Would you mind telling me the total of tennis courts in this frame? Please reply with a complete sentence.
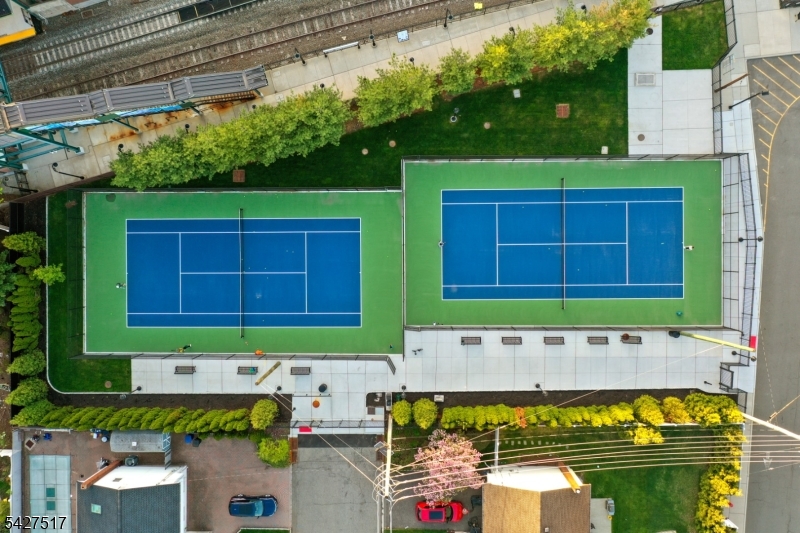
My tally gives 2 tennis courts in this view.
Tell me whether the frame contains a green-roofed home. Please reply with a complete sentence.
No, there appears to be no green-roofed home in this shot.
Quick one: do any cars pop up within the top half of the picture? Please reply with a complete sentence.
No, looking within the top half of the picture, there is no car.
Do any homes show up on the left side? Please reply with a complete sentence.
Yes, a home shows up on the left side.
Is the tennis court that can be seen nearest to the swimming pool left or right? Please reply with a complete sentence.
The tennis court that can be seen nearest to the swimming pool is on the left side of the image.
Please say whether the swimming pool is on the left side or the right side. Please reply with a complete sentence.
It is on the left.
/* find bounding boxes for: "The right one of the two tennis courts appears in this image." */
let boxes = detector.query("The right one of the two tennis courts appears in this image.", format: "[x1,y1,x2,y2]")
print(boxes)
[406,161,722,325]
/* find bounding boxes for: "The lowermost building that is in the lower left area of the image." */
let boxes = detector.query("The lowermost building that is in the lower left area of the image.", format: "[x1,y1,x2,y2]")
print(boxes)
[77,461,188,533]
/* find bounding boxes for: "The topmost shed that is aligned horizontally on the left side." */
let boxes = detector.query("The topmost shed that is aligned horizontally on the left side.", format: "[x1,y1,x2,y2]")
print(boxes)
[111,428,173,453]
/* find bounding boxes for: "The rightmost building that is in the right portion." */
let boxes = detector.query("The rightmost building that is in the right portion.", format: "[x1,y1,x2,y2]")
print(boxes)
[482,462,591,533]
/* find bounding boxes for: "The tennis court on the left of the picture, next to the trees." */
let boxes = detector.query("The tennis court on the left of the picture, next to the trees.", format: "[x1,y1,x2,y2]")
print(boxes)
[86,191,404,353]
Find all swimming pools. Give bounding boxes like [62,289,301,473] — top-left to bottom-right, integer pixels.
[24,452,76,533]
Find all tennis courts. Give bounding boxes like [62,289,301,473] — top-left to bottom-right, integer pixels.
[406,161,722,325]
[86,191,404,353]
